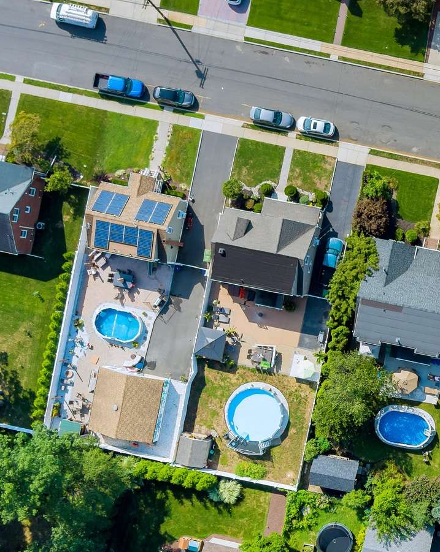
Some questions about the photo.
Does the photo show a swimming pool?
Yes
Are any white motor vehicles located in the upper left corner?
Yes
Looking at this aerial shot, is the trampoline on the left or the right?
right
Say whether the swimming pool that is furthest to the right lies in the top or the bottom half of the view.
bottom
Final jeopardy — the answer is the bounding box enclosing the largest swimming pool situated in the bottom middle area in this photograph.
[225,381,288,451]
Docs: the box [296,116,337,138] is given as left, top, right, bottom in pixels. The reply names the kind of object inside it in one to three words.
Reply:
car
